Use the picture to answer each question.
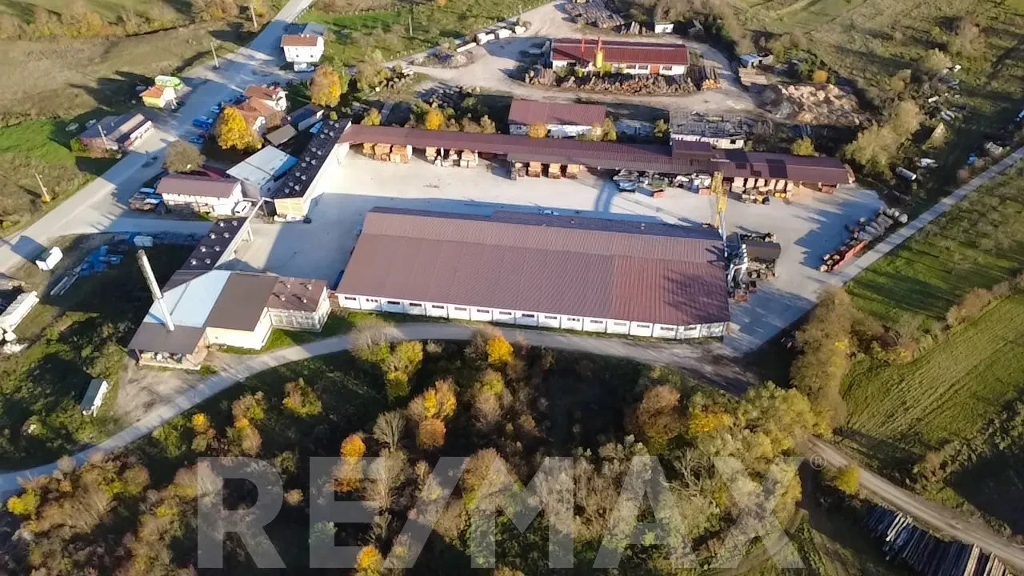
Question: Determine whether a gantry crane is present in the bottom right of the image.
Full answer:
No, in the bottom right of the image there is no gantry crane.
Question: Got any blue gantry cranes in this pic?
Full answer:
No, I can't see a single blue gantry crane in this photo.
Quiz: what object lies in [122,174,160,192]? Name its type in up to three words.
vehicle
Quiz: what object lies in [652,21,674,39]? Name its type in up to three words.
shed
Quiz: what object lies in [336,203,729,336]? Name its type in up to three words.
building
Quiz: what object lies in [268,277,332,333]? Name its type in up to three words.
building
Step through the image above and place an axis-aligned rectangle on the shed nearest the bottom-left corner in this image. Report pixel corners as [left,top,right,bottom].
[78,380,108,417]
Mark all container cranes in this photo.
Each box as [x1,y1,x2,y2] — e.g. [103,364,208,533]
[702,173,727,234]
